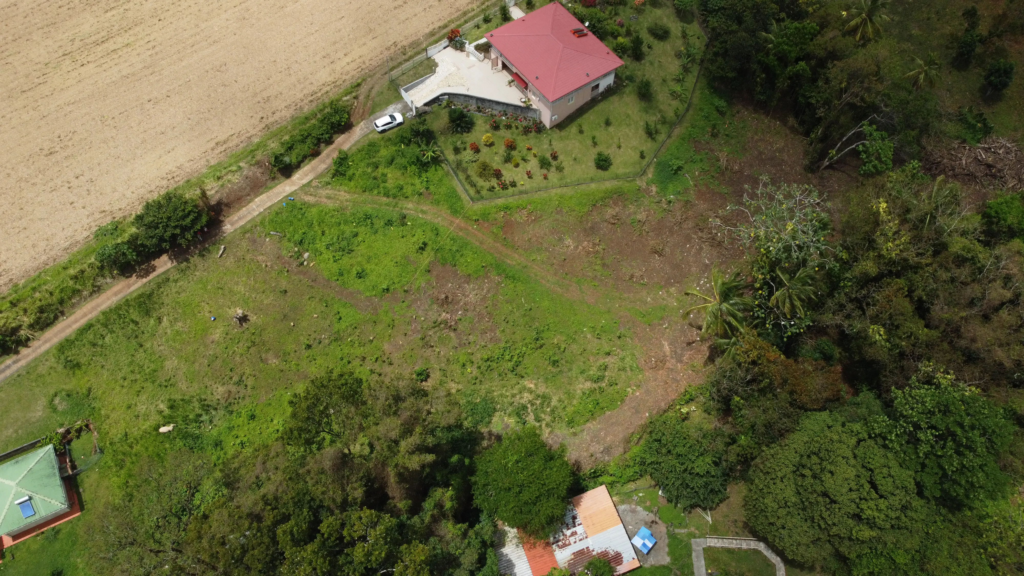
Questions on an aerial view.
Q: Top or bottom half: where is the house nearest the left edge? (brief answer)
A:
bottom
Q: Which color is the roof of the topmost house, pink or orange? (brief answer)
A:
pink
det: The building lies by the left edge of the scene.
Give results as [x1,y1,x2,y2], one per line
[0,444,71,539]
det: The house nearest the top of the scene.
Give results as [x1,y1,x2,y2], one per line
[483,2,627,129]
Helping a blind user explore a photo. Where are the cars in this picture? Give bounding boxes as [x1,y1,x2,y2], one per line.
[372,113,403,131]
